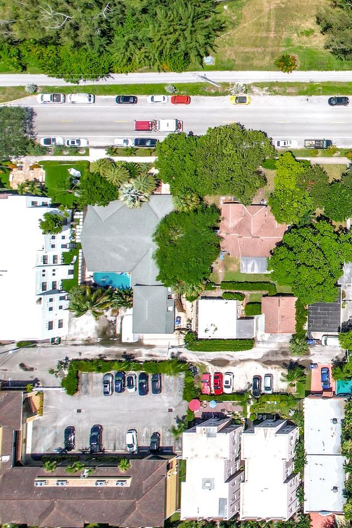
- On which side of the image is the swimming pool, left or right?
left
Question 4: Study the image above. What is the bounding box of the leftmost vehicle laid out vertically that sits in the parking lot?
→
[65,426,77,451]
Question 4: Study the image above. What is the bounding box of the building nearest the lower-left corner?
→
[0,387,181,528]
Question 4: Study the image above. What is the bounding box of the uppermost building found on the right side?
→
[218,203,288,273]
